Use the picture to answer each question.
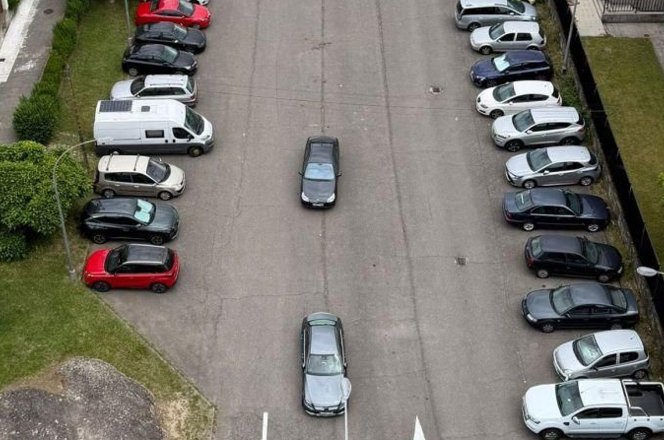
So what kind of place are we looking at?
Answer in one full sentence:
It's a parking lot.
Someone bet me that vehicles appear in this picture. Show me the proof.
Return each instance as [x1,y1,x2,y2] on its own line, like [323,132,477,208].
[296,129,342,203]
[81,241,181,292]
[502,144,606,188]
[76,196,180,245]
[550,328,657,381]
[90,151,187,200]
[109,67,199,103]
[490,107,591,152]
[120,38,199,74]
[133,18,208,49]
[518,278,646,331]
[475,79,567,118]
[296,308,351,411]
[469,50,558,85]
[134,0,212,25]
[520,375,664,440]
[500,186,614,232]
[453,0,540,30]
[469,18,551,53]
[522,232,627,281]
[90,94,215,156]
